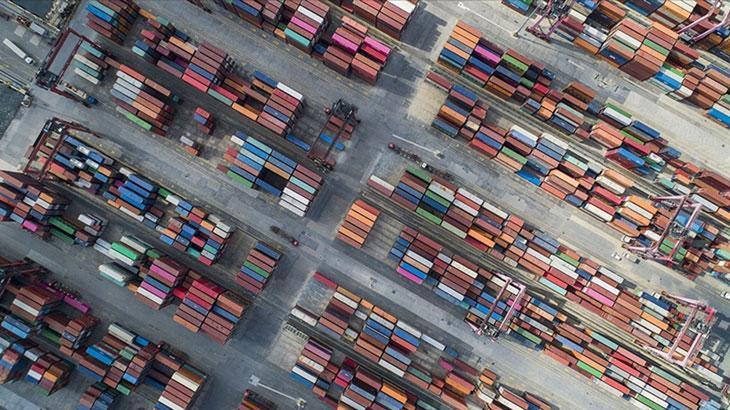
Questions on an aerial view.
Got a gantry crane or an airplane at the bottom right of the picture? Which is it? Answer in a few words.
gantry crane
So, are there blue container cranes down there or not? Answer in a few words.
No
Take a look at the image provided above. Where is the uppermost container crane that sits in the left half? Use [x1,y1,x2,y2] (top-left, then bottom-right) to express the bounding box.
[31,26,115,105]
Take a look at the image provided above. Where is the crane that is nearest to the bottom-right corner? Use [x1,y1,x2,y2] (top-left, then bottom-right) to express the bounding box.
[633,289,719,368]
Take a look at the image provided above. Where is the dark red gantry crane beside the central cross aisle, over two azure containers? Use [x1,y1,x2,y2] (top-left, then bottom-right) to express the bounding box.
[304,101,361,173]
